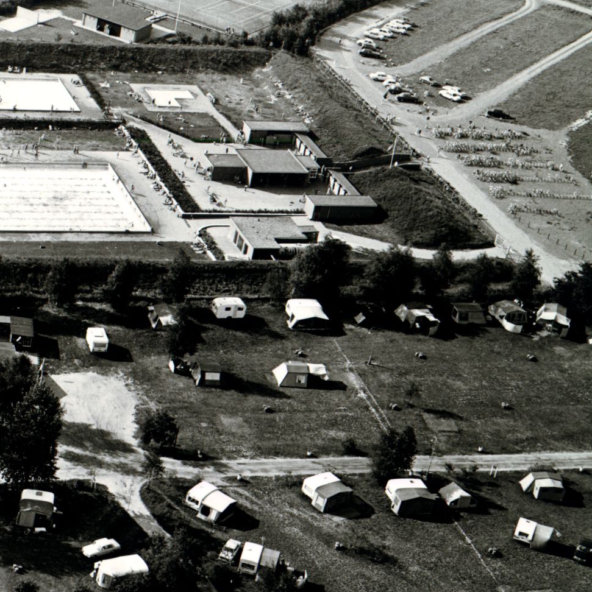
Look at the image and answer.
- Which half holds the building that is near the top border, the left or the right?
left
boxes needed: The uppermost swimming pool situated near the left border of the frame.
[0,73,80,113]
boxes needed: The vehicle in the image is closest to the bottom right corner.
[574,537,592,561]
